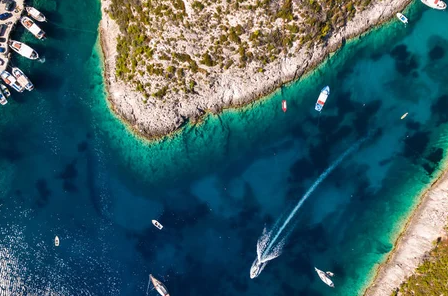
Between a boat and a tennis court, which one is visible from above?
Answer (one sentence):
It is a boat that can be seen here.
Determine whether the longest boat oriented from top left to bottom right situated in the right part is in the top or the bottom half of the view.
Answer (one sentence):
It is in the bottom half that the longest boat oriented from top left to bottom right situated in the right part appears.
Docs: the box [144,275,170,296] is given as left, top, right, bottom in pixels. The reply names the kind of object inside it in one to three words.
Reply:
boat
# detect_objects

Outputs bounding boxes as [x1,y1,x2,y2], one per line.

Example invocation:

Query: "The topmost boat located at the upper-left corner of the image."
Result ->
[23,4,46,21]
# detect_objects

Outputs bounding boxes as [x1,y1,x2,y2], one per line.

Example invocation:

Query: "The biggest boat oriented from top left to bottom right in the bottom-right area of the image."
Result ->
[315,268,336,290]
